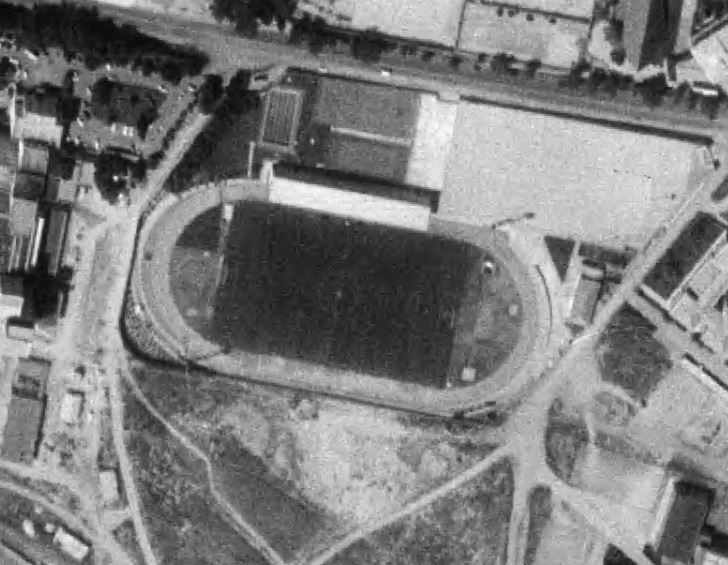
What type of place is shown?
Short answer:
sports ground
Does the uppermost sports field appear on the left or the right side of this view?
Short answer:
right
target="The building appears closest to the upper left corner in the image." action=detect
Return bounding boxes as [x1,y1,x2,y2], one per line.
[14,91,68,148]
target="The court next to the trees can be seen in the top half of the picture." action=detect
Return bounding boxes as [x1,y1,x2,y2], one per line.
[261,88,303,150]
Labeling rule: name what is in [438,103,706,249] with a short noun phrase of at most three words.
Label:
sports field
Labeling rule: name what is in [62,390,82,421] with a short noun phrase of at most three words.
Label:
shed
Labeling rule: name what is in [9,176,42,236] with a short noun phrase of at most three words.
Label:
building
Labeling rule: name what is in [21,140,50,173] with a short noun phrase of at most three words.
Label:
house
